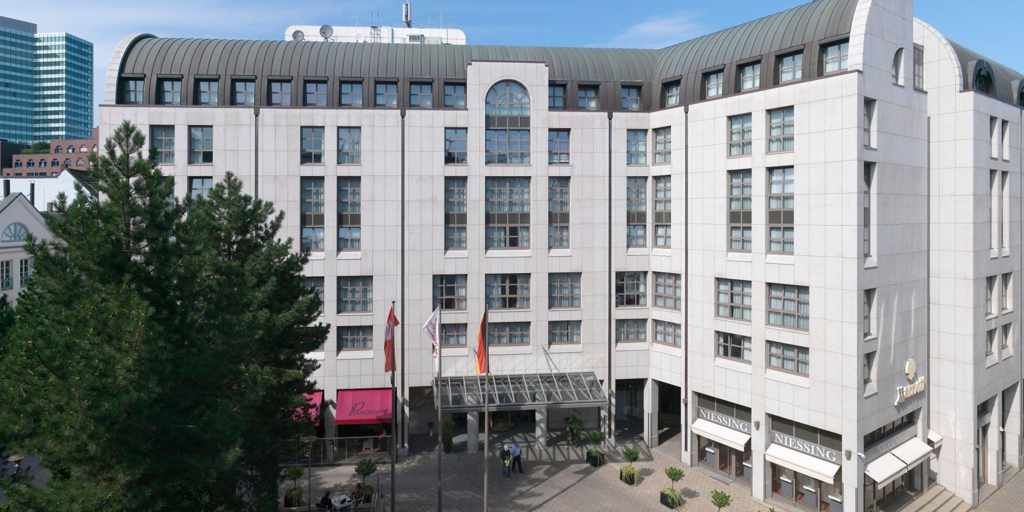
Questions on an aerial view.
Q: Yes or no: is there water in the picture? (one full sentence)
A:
No, water can't be seen anywhere here.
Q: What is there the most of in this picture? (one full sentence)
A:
For the most part, this view shows buildings.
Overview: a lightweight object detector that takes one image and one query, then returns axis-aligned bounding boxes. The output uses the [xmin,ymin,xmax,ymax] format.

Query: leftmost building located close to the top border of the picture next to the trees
[0,9,94,148]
